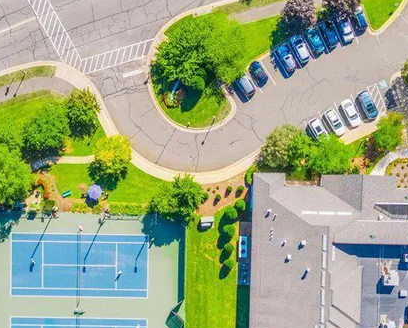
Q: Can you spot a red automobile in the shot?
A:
No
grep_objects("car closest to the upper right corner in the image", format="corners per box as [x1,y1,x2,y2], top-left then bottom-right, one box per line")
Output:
[352,7,370,35]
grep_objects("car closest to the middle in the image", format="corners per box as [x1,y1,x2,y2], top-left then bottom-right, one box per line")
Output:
[234,71,257,101]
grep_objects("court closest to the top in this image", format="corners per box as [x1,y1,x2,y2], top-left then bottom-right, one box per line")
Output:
[0,213,185,307]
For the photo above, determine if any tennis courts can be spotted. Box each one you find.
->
[0,307,185,328]
[0,213,185,307]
